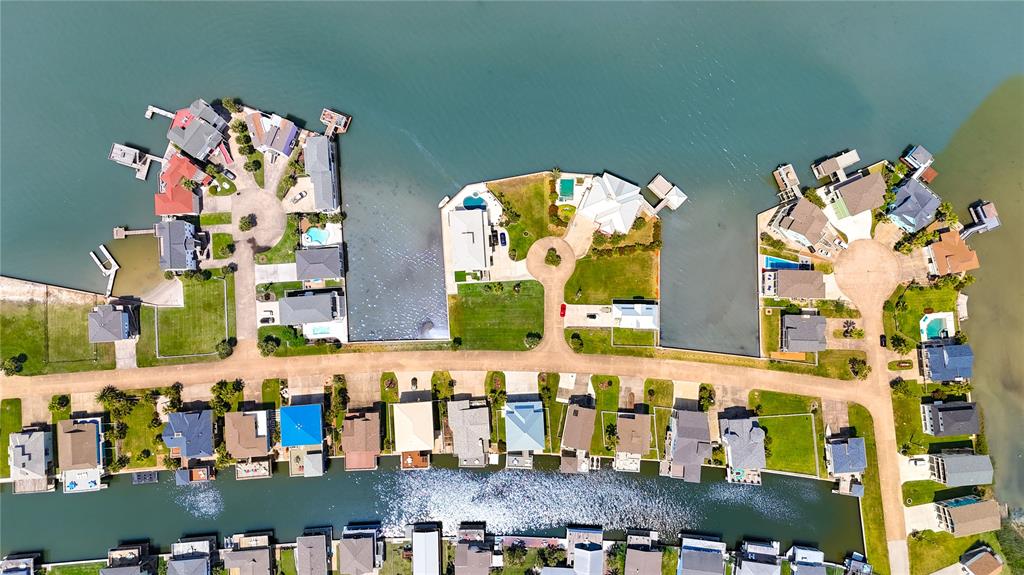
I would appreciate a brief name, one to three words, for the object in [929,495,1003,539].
house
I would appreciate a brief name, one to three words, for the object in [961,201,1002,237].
building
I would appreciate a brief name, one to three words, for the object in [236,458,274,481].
pier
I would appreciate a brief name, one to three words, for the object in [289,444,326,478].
building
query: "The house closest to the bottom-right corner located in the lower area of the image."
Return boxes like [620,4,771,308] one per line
[955,539,1003,575]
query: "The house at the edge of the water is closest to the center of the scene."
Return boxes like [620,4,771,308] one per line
[449,204,494,279]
